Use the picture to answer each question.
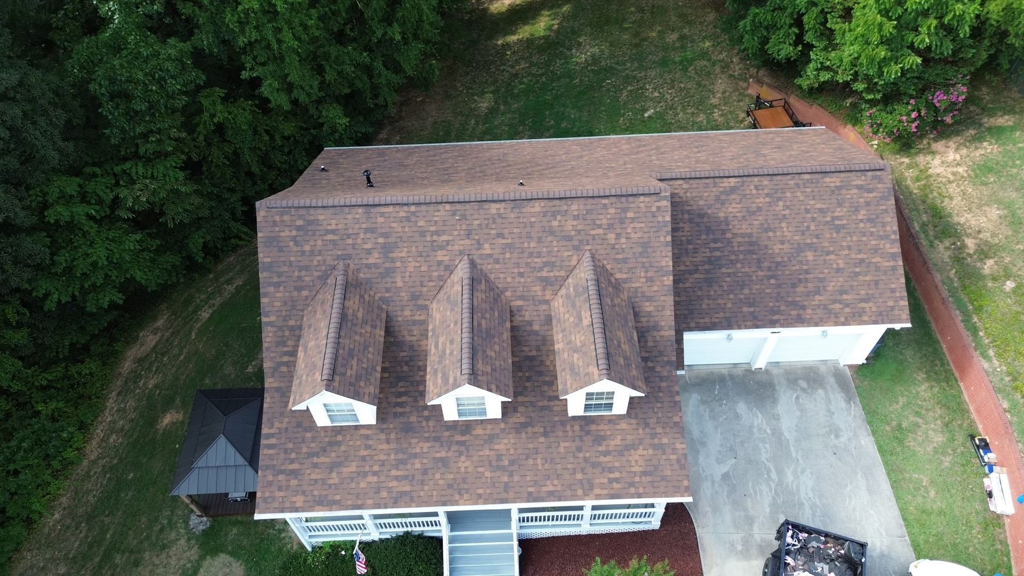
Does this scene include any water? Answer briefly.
No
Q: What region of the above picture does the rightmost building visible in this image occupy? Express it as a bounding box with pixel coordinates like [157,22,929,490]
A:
[254,127,911,576]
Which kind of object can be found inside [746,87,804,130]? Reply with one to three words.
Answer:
trailer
